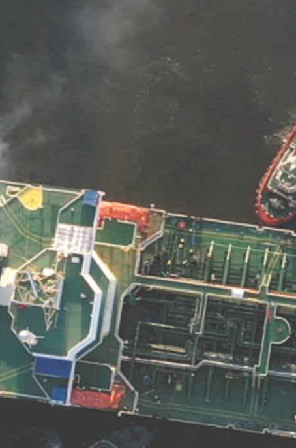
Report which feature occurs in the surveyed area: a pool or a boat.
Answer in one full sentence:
The one in the frame is a boat.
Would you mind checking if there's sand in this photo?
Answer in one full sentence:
No, there's no sand in this view.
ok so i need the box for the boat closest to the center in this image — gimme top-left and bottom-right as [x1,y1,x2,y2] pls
[102,201,150,227]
